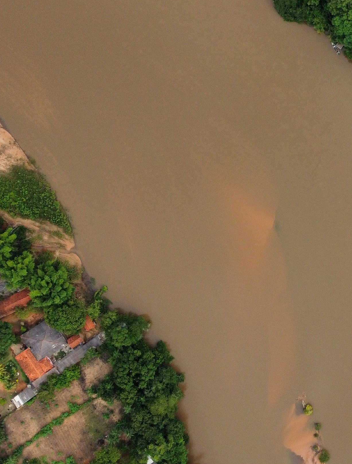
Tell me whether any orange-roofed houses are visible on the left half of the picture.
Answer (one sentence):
Yes, an orange-roofed house appears on the left half of the picture.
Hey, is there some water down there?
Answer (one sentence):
Yes, some water is visible.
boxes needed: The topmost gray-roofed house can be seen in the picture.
[21,321,67,360]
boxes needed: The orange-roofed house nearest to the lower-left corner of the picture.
[16,348,55,381]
